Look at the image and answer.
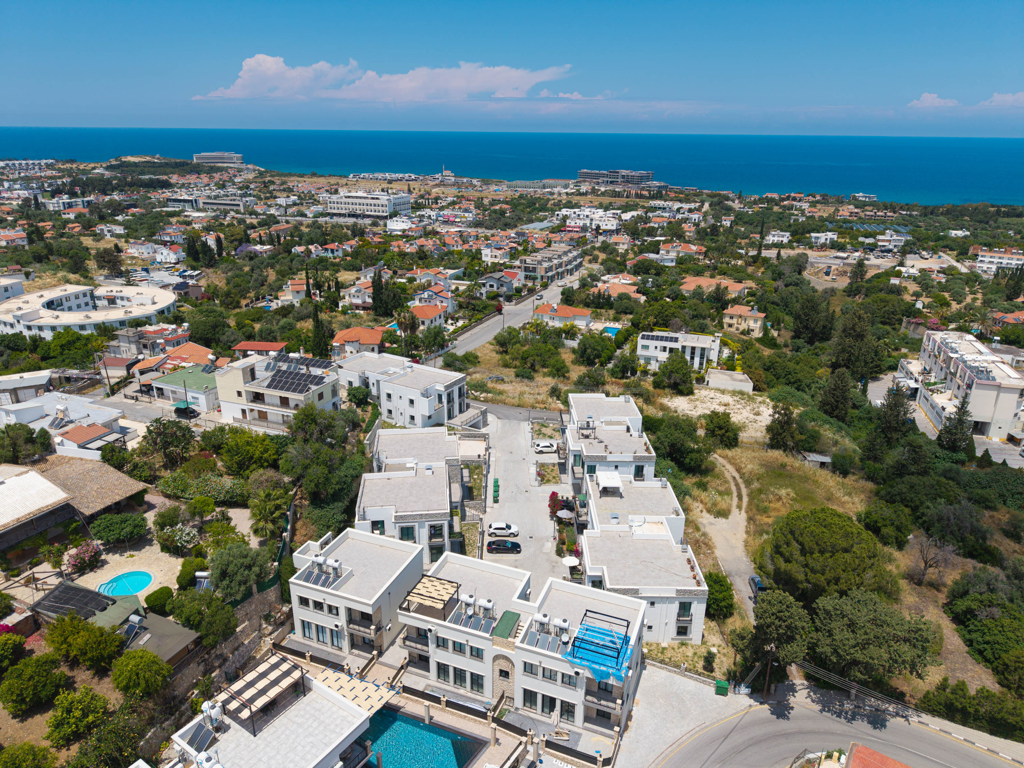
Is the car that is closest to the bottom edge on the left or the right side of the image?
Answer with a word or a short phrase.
right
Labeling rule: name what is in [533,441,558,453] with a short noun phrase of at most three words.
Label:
vehicle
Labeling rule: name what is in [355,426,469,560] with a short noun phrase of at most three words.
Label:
house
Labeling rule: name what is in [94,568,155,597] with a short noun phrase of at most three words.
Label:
swimming pool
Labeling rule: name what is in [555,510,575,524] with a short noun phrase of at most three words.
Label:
umbrella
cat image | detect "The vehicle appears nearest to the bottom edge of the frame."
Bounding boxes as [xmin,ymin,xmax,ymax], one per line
[745,573,772,595]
